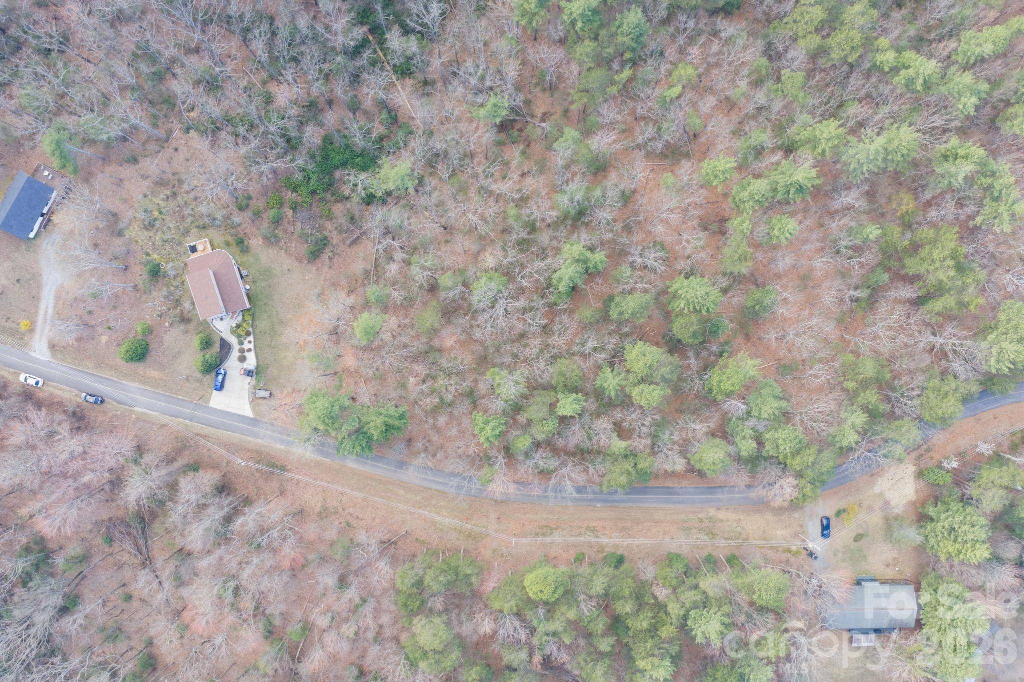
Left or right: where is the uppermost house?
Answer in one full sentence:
You can find the uppermost house on the left side of the picture.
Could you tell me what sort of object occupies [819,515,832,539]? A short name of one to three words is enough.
vehicle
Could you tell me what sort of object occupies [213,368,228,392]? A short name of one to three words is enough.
car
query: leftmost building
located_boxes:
[0,169,58,239]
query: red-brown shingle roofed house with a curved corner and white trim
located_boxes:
[186,249,251,321]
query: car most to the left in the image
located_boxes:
[19,373,46,388]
